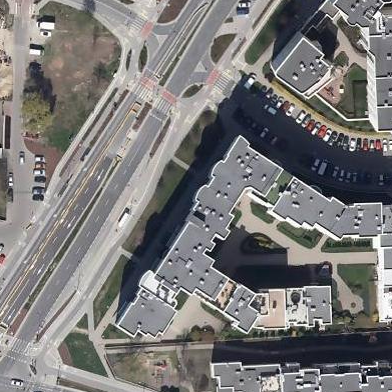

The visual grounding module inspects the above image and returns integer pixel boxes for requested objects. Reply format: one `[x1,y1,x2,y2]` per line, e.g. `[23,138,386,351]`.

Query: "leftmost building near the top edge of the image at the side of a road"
[271,0,338,98]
